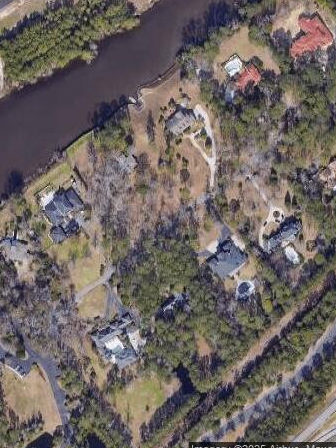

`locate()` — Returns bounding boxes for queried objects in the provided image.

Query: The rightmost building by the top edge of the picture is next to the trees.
[288,10,333,62]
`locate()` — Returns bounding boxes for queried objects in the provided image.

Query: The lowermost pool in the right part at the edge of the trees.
[236,279,253,296]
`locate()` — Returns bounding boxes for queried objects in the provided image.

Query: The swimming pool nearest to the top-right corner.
[223,57,243,75]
